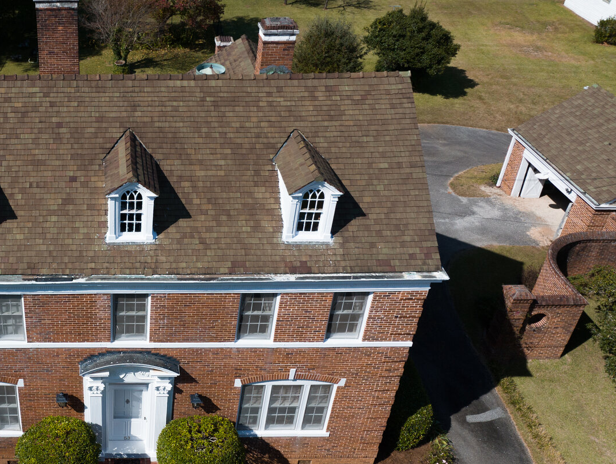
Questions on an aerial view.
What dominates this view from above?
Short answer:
buildings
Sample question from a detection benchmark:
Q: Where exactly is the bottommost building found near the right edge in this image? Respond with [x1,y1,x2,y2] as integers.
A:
[495,83,616,240]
